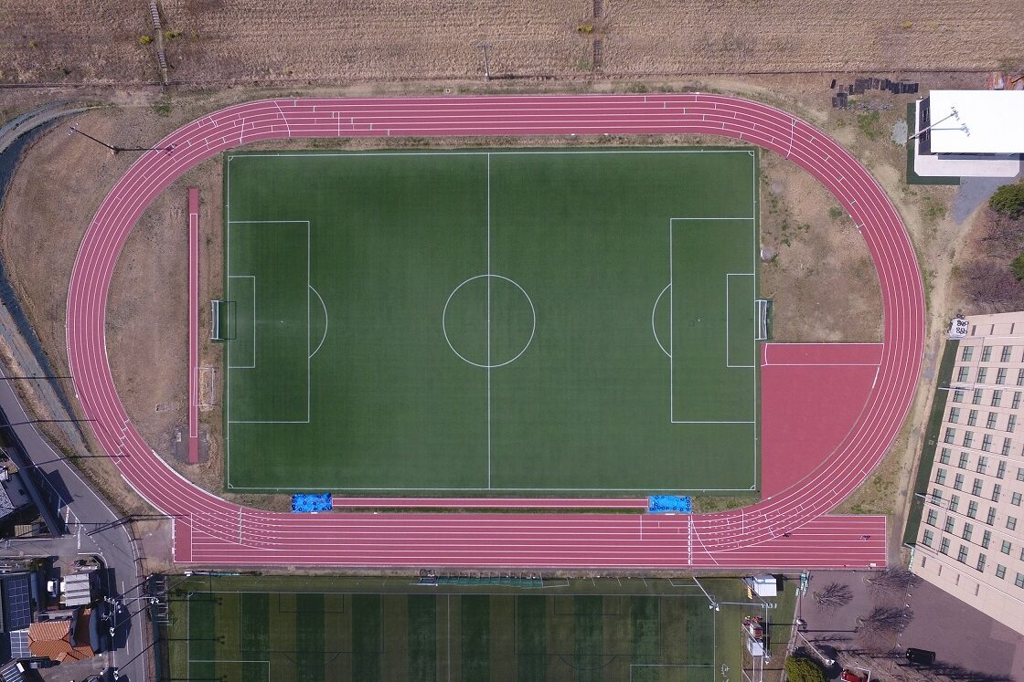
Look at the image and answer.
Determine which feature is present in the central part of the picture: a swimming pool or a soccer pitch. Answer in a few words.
soccer pitch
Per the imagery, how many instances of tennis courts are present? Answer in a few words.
0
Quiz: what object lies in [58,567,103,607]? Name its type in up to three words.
building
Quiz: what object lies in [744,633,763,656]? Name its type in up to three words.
shed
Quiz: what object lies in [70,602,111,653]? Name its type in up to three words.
house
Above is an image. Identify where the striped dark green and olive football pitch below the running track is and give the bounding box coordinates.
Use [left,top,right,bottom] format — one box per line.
[183,587,720,682]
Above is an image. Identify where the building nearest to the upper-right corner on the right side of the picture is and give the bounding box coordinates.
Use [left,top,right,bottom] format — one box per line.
[914,89,1024,177]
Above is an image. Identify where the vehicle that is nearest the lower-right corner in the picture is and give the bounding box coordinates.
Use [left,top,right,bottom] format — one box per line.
[907,649,938,665]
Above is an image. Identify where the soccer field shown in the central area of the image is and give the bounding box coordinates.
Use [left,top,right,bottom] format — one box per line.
[211,145,774,495]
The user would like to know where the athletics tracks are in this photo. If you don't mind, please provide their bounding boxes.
[66,92,925,569]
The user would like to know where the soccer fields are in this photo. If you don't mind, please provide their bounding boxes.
[183,587,720,682]
[211,145,774,495]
